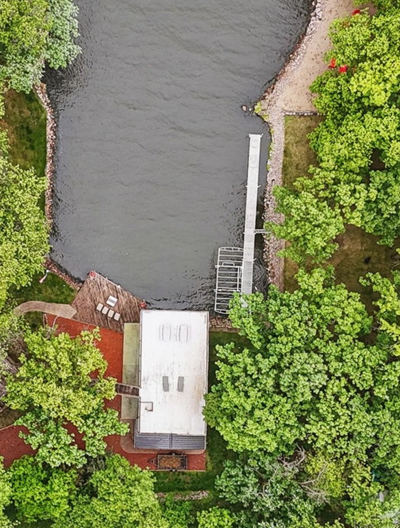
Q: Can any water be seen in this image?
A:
Yes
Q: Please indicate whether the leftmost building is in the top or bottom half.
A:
bottom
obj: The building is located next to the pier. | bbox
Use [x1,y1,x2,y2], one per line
[133,311,210,452]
